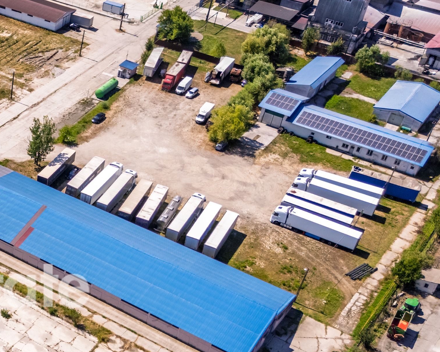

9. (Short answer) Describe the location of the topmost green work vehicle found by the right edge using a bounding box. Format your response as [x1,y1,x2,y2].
[402,296,421,317]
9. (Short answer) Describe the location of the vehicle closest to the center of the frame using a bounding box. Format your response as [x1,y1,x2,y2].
[214,139,232,152]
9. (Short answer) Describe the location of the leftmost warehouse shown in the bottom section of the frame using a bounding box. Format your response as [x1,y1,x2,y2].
[0,167,300,352]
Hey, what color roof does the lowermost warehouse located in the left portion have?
blue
